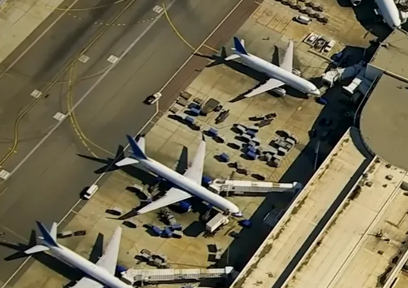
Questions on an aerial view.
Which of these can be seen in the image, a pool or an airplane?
airplane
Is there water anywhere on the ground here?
No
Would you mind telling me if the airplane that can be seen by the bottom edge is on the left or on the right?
left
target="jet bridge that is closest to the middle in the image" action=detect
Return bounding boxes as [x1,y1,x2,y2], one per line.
[207,178,302,201]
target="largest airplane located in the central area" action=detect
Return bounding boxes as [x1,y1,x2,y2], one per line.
[116,130,243,216]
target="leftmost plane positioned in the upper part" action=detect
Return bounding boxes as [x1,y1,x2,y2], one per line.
[230,39,321,98]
